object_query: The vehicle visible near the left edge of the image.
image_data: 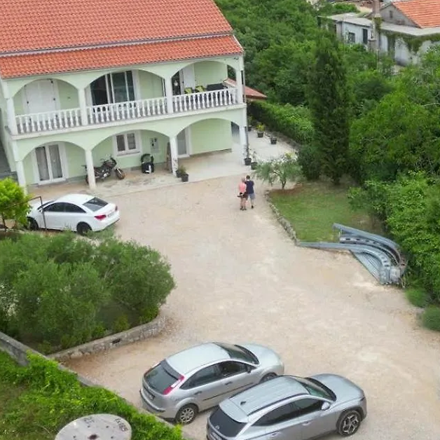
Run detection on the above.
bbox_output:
[15,193,125,238]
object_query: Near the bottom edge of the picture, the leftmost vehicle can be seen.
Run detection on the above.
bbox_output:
[141,336,290,424]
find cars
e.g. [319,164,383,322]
[141,336,290,424]
[210,371,375,440]
[15,193,125,238]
